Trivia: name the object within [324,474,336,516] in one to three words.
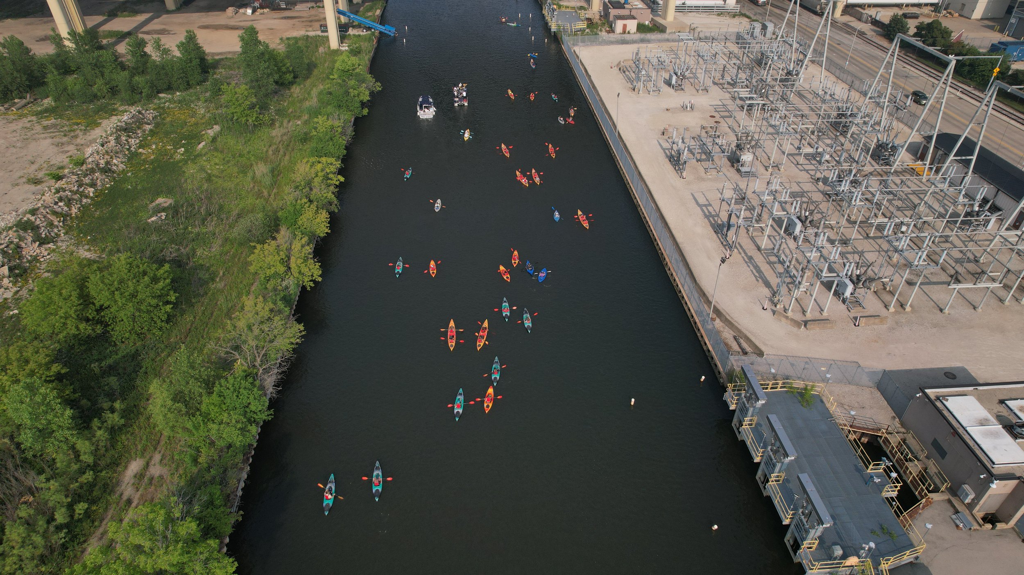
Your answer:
boat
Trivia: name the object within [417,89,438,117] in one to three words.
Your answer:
boat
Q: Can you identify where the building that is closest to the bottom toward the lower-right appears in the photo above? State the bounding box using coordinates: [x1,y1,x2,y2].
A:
[901,381,1024,540]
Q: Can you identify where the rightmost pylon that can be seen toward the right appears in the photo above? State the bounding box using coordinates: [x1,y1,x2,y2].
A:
[917,82,1024,266]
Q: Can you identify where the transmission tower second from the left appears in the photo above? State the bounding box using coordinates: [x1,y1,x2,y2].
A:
[842,28,959,182]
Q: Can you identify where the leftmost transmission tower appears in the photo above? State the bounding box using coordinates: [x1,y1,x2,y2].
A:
[762,0,835,97]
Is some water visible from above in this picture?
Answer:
Yes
